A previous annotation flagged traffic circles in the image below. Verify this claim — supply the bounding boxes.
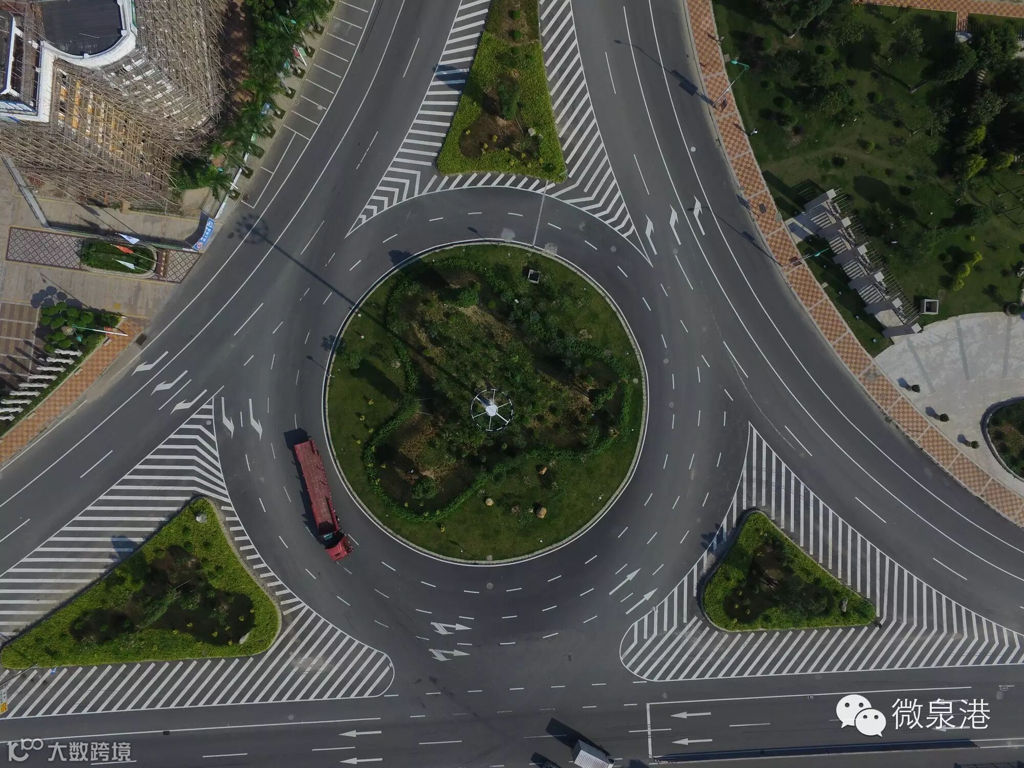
[270,190,697,617]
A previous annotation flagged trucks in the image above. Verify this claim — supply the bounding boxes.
[573,737,620,768]
[295,439,358,564]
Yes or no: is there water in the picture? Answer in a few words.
No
